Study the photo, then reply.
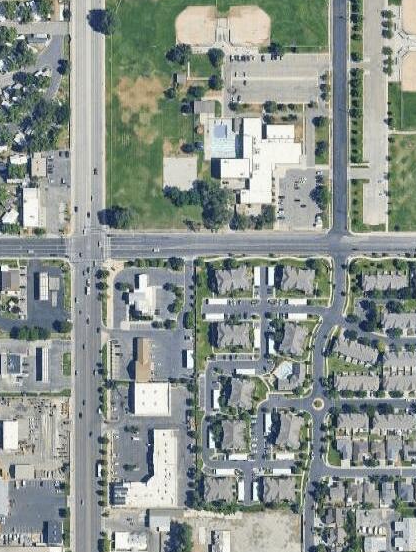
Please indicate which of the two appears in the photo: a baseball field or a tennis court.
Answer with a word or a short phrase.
baseball field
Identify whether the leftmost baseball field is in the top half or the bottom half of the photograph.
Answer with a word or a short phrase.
top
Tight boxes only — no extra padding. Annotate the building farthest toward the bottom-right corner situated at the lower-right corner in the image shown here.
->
[400,518,416,552]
